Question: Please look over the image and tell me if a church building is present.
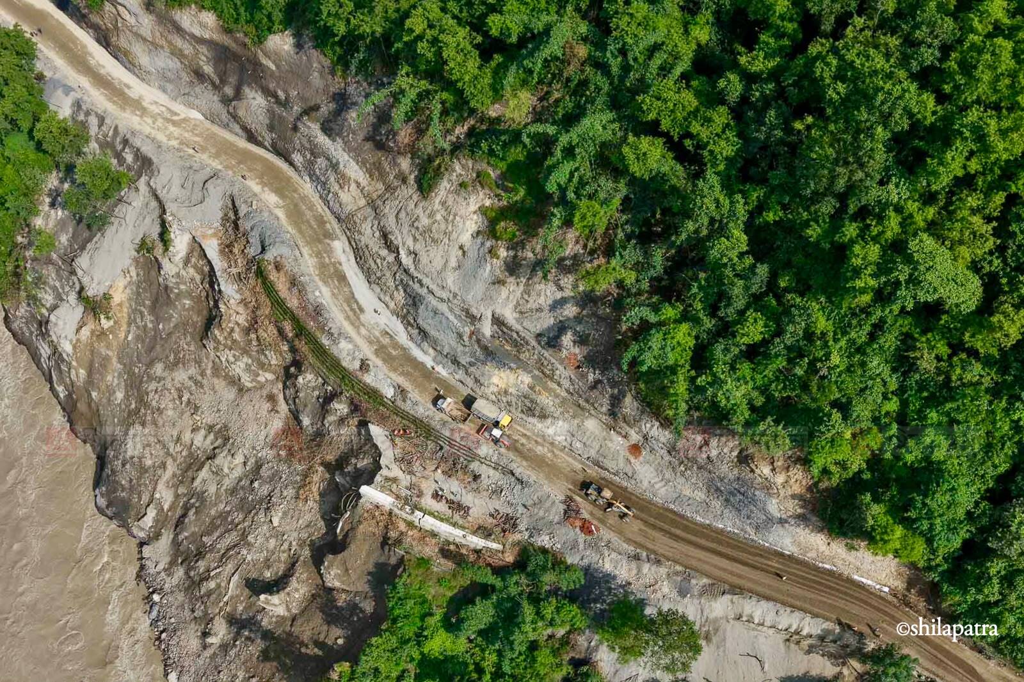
No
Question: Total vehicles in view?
4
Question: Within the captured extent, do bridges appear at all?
No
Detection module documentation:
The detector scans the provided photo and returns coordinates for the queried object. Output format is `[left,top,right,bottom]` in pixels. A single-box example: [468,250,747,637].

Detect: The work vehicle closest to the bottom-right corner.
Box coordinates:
[586,484,640,527]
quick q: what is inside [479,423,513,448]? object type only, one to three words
work vehicle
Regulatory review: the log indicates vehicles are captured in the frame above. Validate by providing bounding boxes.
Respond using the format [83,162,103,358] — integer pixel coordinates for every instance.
[586,484,640,527]
[471,399,513,432]
[479,423,513,448]
[435,397,475,426]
